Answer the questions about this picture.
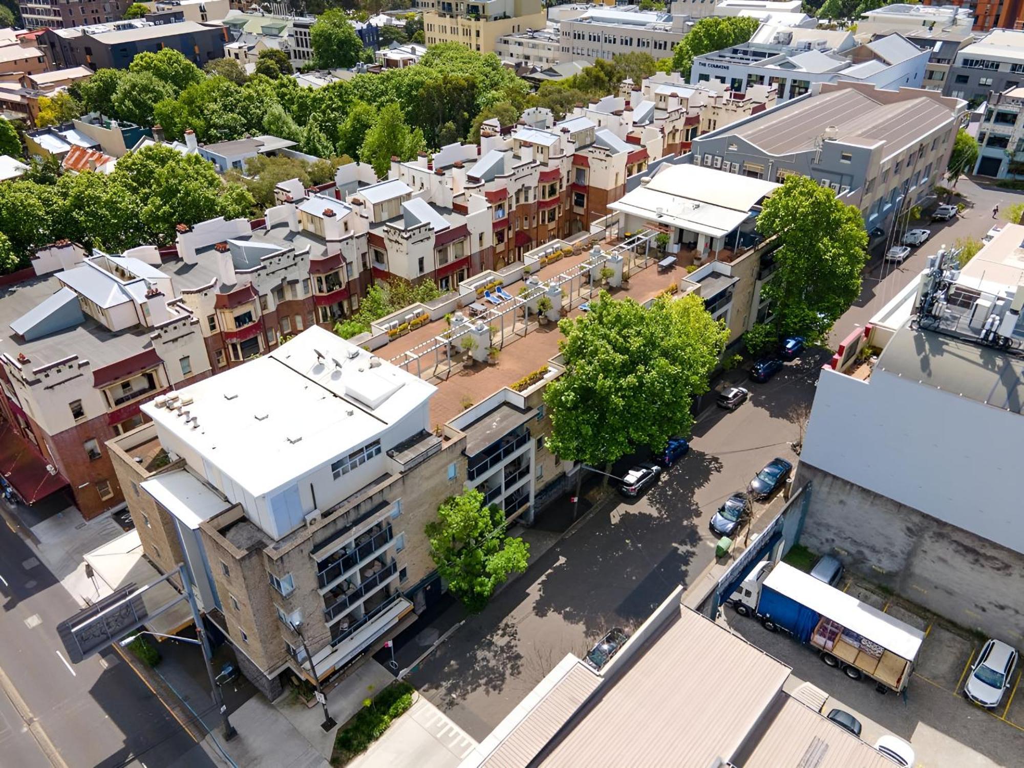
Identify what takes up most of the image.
buildings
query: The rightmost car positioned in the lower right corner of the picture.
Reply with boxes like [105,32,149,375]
[966,636,1024,709]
